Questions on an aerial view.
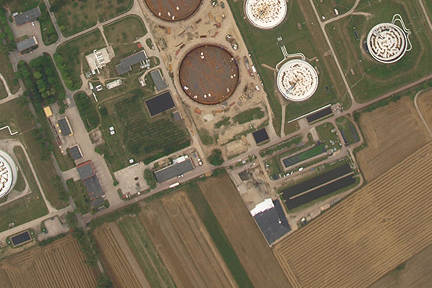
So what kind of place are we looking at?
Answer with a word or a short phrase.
industrial area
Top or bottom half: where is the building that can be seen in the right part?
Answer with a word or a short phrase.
bottom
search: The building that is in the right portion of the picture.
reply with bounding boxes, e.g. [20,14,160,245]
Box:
[250,198,291,246]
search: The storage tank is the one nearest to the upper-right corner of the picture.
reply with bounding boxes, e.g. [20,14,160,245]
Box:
[365,21,407,63]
